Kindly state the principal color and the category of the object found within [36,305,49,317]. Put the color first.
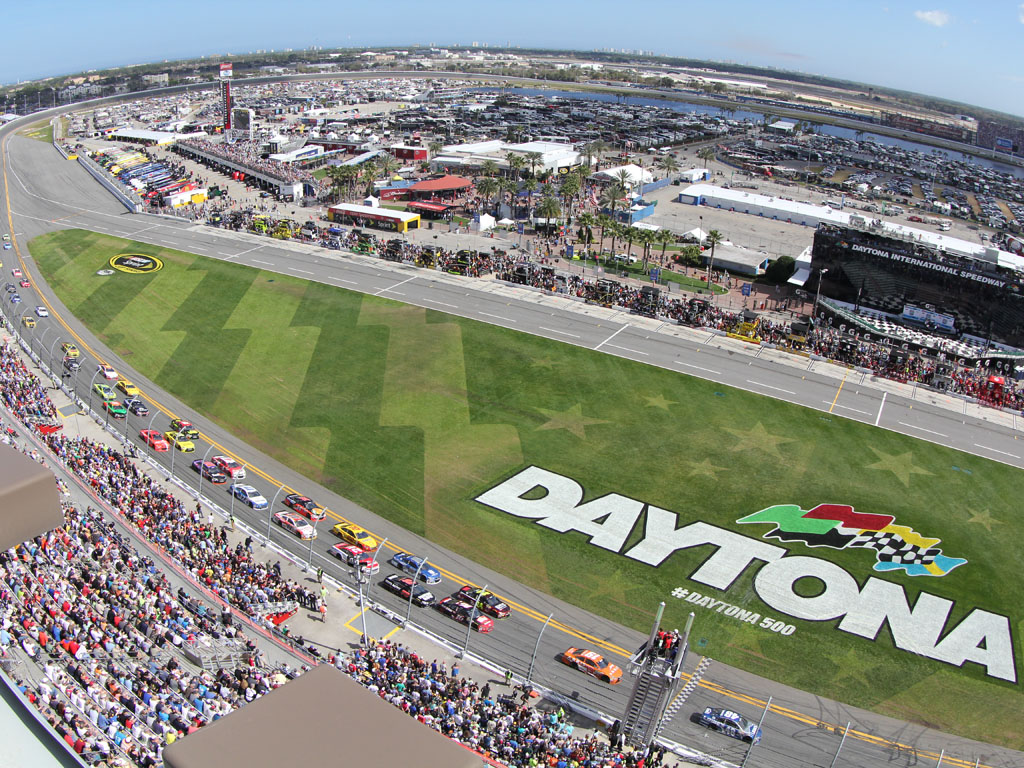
white vehicle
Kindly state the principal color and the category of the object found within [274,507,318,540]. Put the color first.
white car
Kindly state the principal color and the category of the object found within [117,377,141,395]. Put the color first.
yellow car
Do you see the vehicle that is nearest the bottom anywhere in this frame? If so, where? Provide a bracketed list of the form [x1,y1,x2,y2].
[692,702,758,744]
